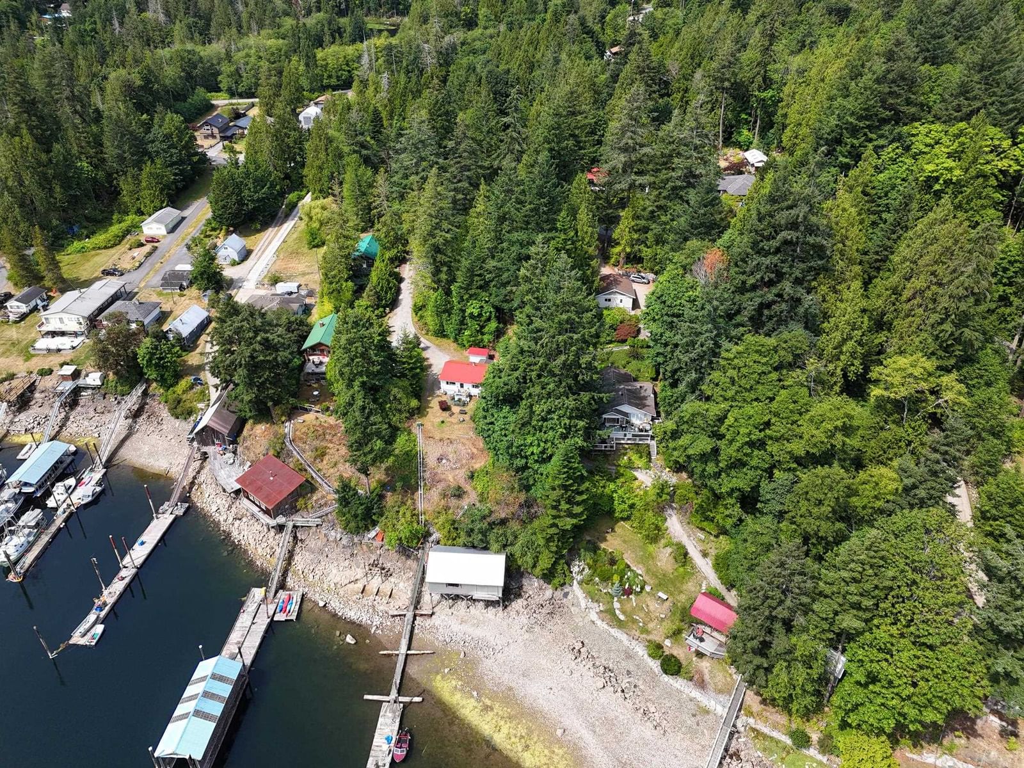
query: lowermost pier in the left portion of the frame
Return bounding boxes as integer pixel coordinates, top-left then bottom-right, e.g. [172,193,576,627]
[363,701,404,768]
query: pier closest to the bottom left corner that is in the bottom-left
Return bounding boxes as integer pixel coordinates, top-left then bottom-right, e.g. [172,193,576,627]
[70,568,135,644]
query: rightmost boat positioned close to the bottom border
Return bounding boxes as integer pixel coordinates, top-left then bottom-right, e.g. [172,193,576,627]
[392,728,411,765]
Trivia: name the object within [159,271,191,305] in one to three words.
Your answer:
building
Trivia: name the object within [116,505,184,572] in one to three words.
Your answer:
pier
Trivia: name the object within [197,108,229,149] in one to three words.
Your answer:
house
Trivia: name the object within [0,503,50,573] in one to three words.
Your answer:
boat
